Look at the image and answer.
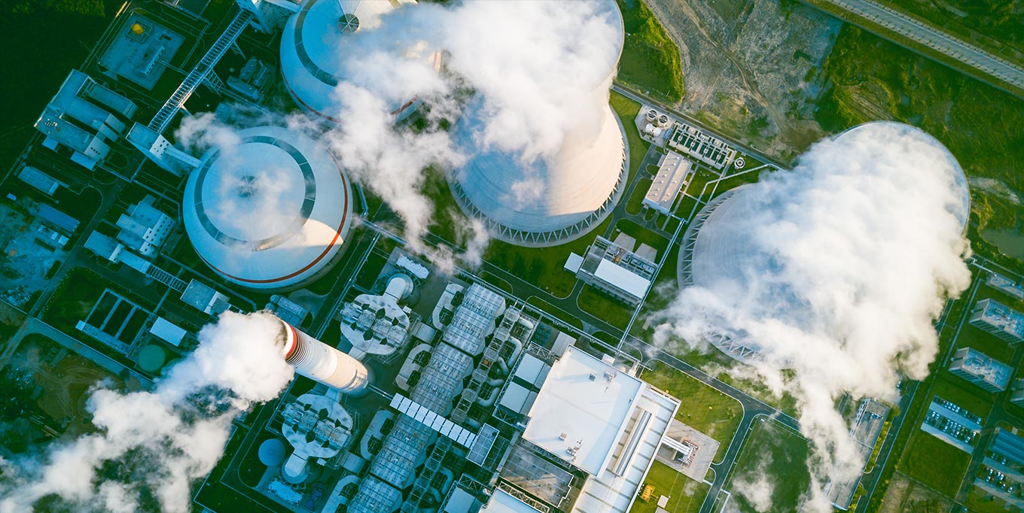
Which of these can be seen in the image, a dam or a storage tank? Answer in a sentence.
This aerial view contains a storage tank.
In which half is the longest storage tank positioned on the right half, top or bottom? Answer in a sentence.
It is in the top half that the longest storage tank positioned on the right half appears.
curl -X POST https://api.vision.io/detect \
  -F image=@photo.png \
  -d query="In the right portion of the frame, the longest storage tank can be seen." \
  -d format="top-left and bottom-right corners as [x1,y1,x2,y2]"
[667,118,737,173]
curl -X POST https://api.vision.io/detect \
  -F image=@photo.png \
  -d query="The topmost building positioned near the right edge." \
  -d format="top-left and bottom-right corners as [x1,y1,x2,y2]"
[977,274,1024,309]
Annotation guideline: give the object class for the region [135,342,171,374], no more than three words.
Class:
storage tank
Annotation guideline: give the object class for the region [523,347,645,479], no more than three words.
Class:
house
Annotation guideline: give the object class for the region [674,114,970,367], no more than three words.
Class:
cooling tower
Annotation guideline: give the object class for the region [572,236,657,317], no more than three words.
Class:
building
